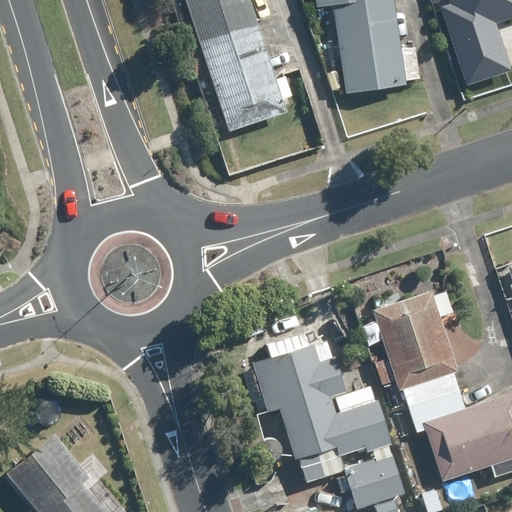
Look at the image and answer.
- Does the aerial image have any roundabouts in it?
Yes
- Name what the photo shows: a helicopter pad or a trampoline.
trampoline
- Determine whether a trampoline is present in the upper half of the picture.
No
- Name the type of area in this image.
residential area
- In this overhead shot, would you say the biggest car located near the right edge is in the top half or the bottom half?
bottom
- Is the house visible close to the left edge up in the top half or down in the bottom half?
bottom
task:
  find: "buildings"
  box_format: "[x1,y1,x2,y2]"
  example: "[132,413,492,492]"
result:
[424,393,512,481]
[422,490,442,512]
[252,334,391,482]
[376,360,391,384]
[186,0,288,131]
[346,446,405,512]
[442,0,512,86]
[364,292,458,390]
[6,435,106,512]
[316,0,407,93]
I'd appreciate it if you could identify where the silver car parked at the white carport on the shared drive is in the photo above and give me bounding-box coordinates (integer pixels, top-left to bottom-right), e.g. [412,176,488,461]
[462,384,492,404]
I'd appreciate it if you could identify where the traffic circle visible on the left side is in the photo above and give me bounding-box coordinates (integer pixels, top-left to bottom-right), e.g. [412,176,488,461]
[88,230,174,316]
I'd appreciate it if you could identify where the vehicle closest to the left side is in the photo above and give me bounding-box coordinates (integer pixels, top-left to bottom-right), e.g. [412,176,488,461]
[64,190,77,218]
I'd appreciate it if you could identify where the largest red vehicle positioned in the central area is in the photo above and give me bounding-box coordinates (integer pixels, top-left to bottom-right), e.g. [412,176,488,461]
[212,212,238,226]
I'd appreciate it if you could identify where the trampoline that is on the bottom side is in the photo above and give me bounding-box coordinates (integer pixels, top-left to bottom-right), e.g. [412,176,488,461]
[36,401,60,426]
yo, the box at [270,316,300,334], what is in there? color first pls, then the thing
white car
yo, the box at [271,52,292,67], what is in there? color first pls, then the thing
white car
